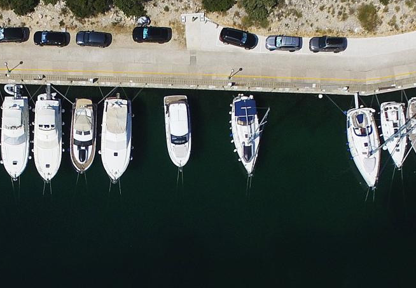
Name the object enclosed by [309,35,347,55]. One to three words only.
car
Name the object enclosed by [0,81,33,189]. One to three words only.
boat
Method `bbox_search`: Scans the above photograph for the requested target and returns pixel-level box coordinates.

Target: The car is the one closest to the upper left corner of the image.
[0,24,26,45]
